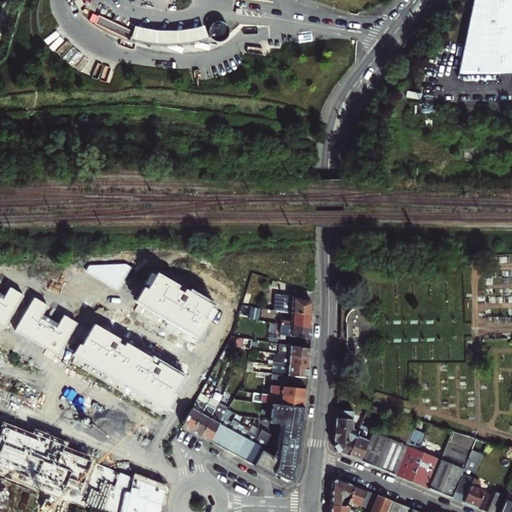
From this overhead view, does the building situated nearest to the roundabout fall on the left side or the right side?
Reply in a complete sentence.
The building situated nearest to the roundabout appears in the left half of the scene.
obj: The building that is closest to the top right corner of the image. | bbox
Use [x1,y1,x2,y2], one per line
[456,0,512,75]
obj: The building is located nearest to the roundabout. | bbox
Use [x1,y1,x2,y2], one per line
[129,472,168,512]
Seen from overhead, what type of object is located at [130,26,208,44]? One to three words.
building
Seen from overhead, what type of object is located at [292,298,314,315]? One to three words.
house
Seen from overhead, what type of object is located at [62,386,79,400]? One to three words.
vehicle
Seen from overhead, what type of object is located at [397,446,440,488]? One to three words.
house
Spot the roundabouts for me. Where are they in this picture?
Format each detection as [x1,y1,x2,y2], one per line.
[168,474,228,512]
